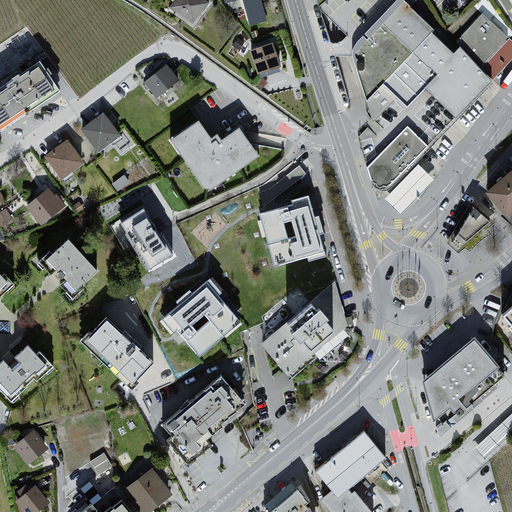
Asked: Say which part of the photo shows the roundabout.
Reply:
right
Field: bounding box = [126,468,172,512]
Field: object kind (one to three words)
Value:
house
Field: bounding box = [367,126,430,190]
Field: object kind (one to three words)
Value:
building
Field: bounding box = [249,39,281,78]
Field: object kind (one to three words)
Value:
house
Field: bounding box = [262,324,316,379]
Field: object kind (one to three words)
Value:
building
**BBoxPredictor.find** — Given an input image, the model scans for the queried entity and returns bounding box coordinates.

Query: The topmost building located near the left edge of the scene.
[0,62,60,132]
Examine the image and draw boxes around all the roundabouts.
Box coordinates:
[371,250,446,325]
